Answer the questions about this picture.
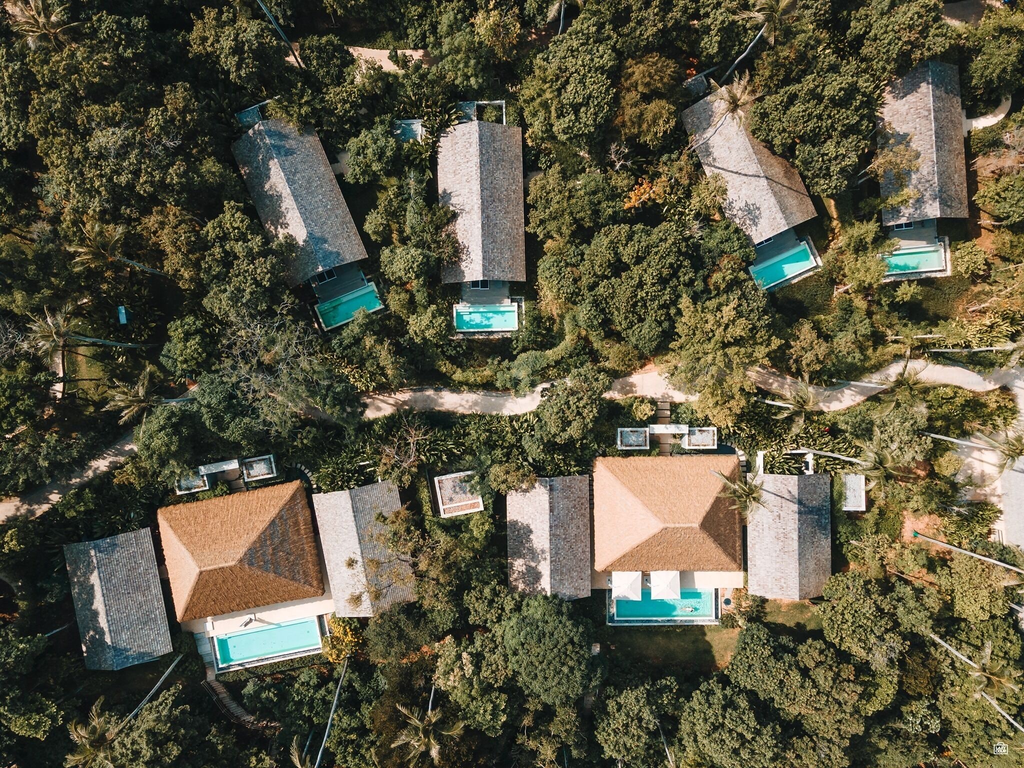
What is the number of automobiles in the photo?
none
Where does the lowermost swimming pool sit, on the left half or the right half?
left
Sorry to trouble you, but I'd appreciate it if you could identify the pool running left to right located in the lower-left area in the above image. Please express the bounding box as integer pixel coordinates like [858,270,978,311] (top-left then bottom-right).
[213,613,324,667]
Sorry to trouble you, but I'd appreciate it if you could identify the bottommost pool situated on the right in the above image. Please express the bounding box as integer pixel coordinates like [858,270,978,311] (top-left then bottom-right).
[614,586,714,619]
